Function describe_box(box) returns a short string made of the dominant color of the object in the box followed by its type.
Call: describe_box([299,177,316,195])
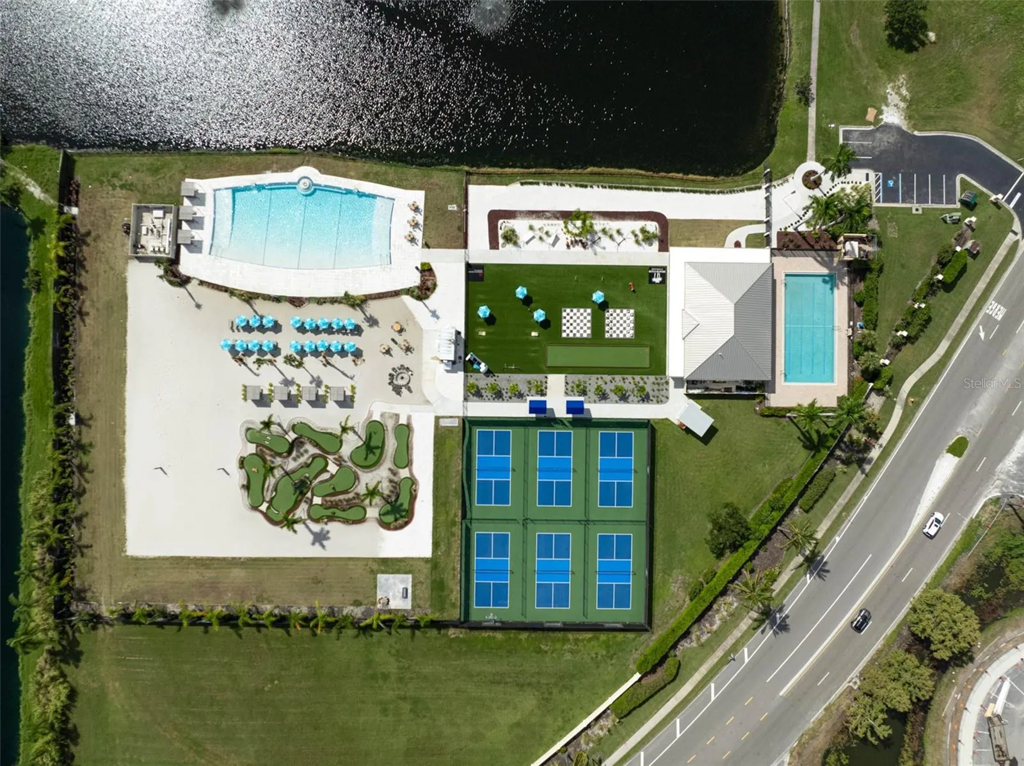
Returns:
white fountain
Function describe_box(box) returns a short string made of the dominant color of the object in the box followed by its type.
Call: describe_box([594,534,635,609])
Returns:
blue sports court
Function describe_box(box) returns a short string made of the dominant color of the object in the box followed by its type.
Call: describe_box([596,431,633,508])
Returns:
blue sports court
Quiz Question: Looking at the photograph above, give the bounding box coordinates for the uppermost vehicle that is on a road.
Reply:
[922,512,943,539]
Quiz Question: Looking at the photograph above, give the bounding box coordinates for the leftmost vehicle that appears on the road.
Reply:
[850,607,871,634]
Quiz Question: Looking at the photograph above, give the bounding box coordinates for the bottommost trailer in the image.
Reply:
[989,716,1012,766]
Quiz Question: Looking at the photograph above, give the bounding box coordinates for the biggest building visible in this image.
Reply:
[666,248,773,381]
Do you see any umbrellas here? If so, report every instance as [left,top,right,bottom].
[516,287,528,299]
[344,341,356,353]
[290,339,302,352]
[593,291,605,303]
[330,340,342,352]
[262,317,275,328]
[479,306,491,319]
[235,339,247,352]
[290,316,303,328]
[534,309,545,321]
[235,314,247,326]
[344,318,356,330]
[220,339,232,352]
[263,339,275,351]
[248,340,261,351]
[249,314,260,327]
[332,318,344,331]
[304,339,316,351]
[317,340,330,351]
[317,318,329,329]
[305,318,317,331]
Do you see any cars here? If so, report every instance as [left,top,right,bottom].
[850,607,871,634]
[922,512,943,539]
